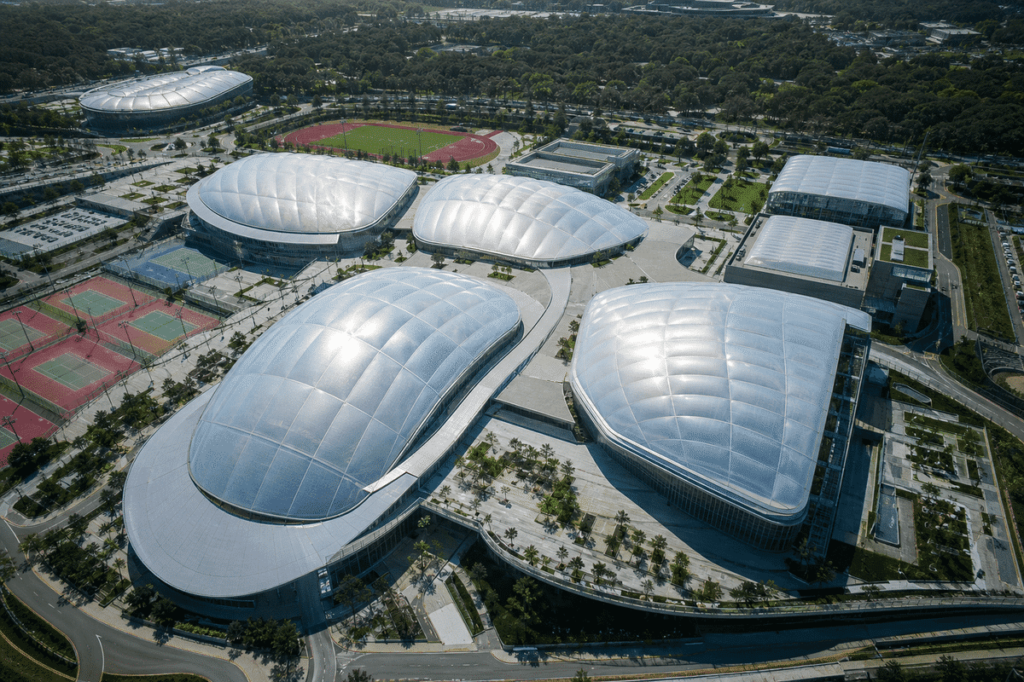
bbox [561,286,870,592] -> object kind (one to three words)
building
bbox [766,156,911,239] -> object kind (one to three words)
building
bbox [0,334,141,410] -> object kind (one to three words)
tennis court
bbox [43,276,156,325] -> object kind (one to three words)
tennis court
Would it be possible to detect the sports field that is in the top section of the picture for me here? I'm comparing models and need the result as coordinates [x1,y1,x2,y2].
[309,126,460,156]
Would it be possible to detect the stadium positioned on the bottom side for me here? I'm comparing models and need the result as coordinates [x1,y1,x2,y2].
[122,268,521,620]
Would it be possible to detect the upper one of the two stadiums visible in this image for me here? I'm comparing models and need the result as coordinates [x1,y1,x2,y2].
[76,65,256,141]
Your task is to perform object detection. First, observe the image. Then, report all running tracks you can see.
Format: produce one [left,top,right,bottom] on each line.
[275,121,502,163]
